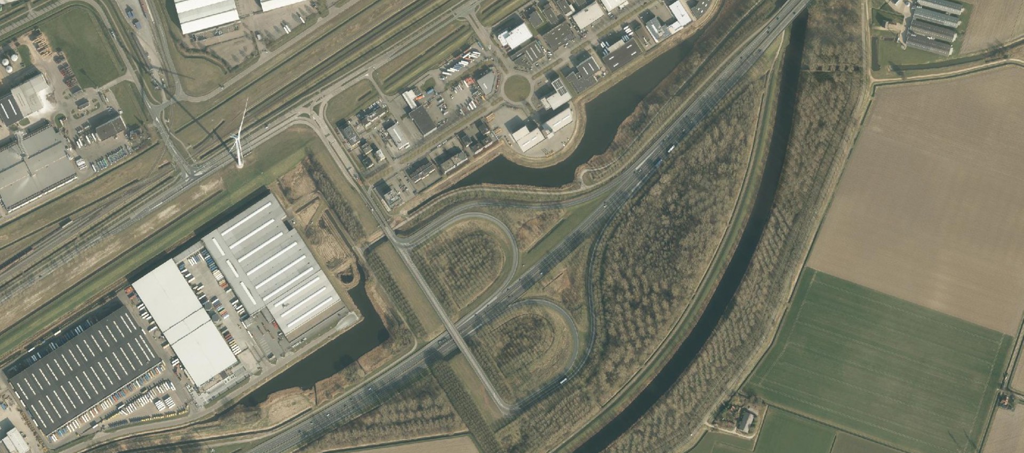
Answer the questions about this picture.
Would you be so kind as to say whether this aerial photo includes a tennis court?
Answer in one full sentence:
No, there isn't any tennis court down there.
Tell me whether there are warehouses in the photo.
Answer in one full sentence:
Yes, you can see a warehouse in this photo.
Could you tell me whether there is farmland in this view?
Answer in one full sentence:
Yes, farmland shows up in the scene.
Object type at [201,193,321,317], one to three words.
warehouse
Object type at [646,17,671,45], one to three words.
building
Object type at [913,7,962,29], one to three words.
barn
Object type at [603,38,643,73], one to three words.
building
